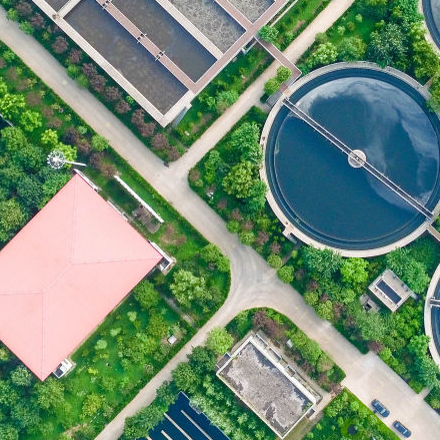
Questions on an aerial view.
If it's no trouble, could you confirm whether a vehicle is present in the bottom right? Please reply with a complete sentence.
Yes, you'll find a vehicle in the bottom right.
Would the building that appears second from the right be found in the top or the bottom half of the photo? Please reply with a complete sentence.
The building that appears second from the right is in the bottom half of the image.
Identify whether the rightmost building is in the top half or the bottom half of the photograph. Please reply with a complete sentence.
The rightmost building sits in the bottom half of the picture.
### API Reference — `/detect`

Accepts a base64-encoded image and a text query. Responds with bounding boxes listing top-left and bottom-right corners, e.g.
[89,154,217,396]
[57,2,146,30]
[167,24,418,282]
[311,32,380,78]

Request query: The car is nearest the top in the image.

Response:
[369,397,390,419]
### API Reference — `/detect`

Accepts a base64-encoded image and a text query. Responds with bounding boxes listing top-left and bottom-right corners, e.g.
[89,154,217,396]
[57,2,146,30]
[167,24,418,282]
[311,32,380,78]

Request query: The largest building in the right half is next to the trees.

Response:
[216,329,327,439]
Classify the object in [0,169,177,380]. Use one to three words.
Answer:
building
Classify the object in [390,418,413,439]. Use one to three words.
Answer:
car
